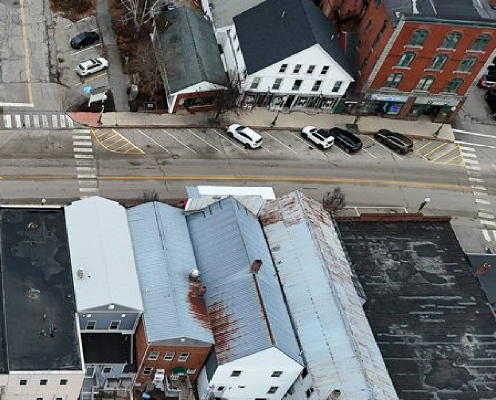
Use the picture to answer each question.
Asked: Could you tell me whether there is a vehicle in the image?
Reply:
Yes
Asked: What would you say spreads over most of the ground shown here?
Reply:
buildings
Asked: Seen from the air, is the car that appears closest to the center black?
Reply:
No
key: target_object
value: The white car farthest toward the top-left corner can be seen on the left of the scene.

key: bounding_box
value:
[74,56,112,77]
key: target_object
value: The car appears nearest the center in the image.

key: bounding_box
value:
[224,123,267,149]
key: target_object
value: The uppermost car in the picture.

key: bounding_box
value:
[69,31,102,50]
